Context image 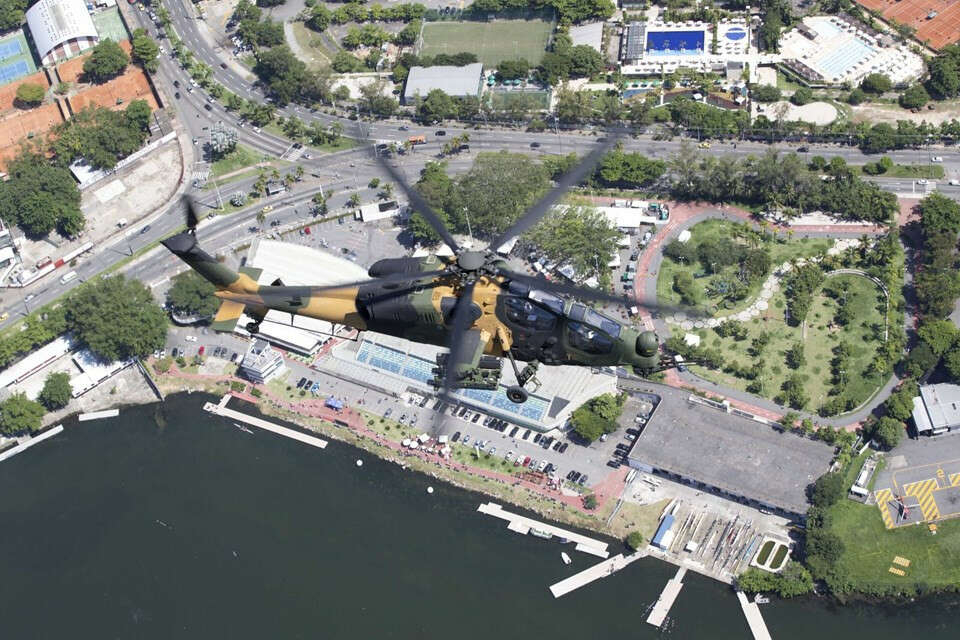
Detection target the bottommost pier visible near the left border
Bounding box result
[0,425,65,464]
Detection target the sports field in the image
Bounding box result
[418,20,552,67]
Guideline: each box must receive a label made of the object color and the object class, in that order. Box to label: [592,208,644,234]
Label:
white tent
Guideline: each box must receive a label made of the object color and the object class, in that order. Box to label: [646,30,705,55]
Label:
blue swimming pool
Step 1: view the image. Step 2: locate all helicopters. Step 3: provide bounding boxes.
[888,490,913,512]
[161,130,714,430]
